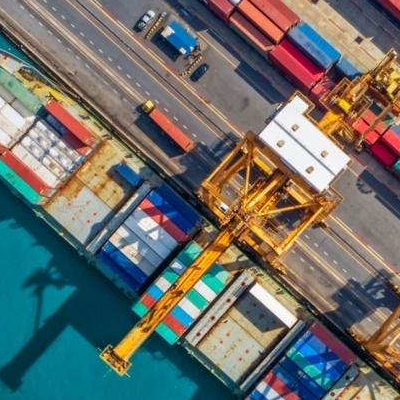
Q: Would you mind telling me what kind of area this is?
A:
port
